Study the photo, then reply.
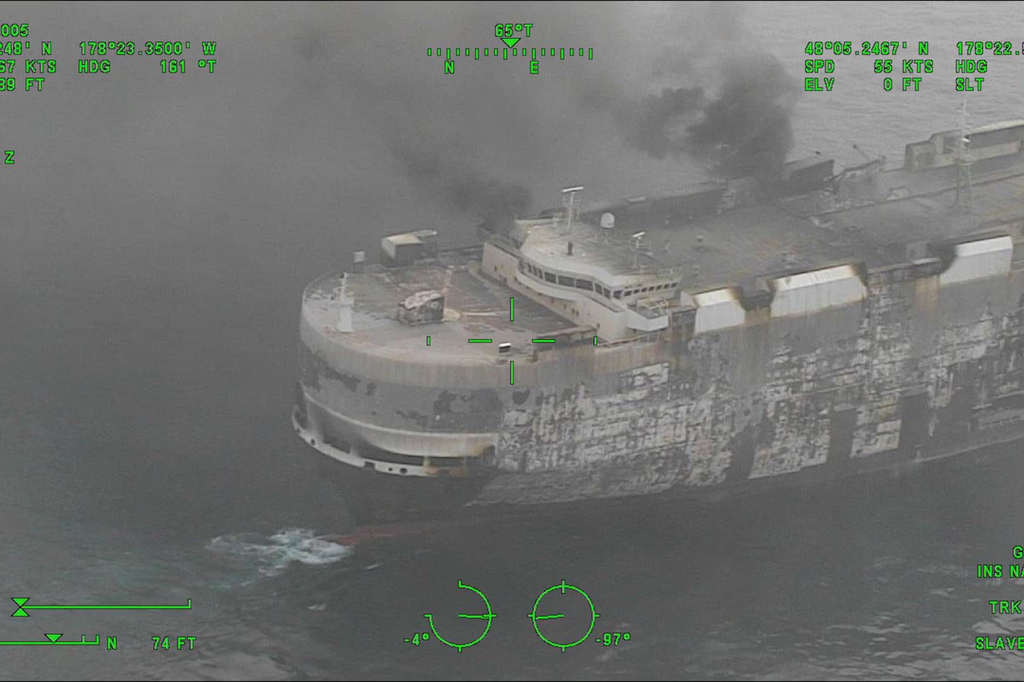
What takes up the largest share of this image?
water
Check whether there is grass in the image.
No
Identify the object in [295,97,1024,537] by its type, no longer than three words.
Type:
ship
